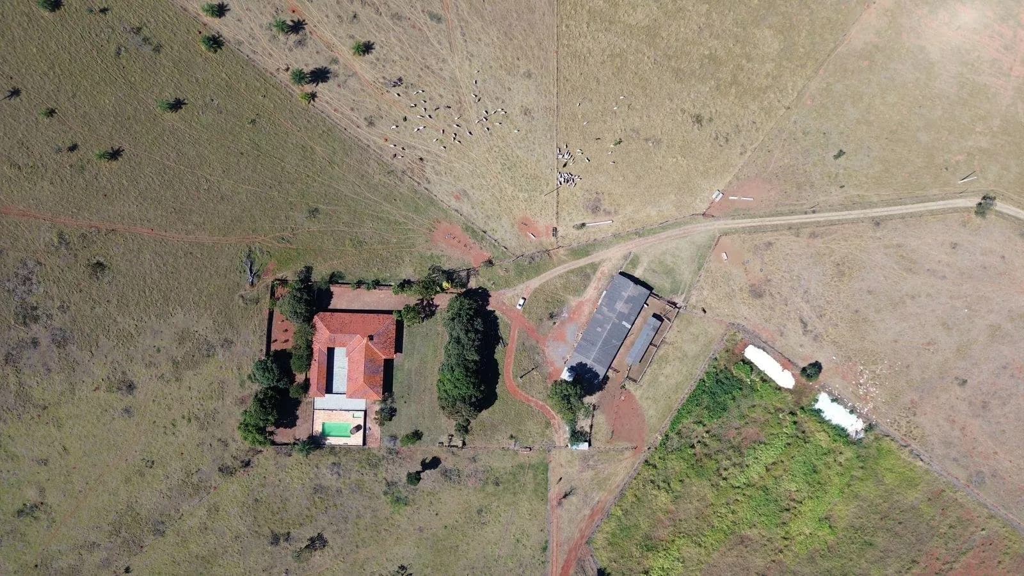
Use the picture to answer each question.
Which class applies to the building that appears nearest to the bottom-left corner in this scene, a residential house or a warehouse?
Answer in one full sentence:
It turns out the building that appears nearest to the bottom-left corner is a residential house.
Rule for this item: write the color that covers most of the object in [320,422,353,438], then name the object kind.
green swimming pool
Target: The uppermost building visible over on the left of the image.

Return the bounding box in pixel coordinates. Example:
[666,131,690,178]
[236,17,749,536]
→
[309,312,401,399]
